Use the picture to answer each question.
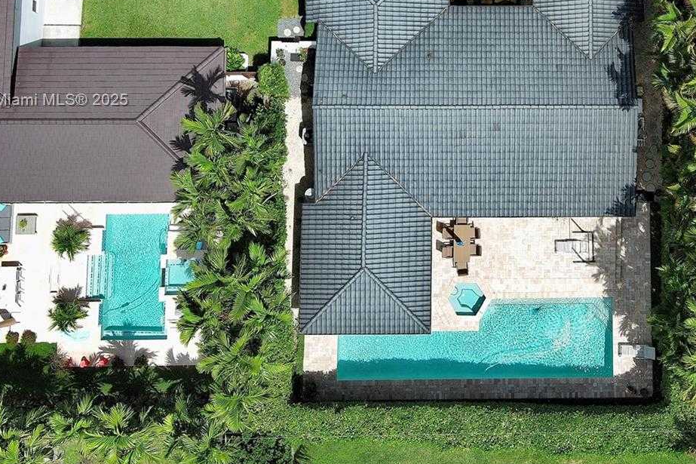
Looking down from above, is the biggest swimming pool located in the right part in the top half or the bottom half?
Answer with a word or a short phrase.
bottom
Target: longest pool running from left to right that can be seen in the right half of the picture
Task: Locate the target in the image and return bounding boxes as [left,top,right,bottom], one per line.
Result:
[332,293,618,385]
